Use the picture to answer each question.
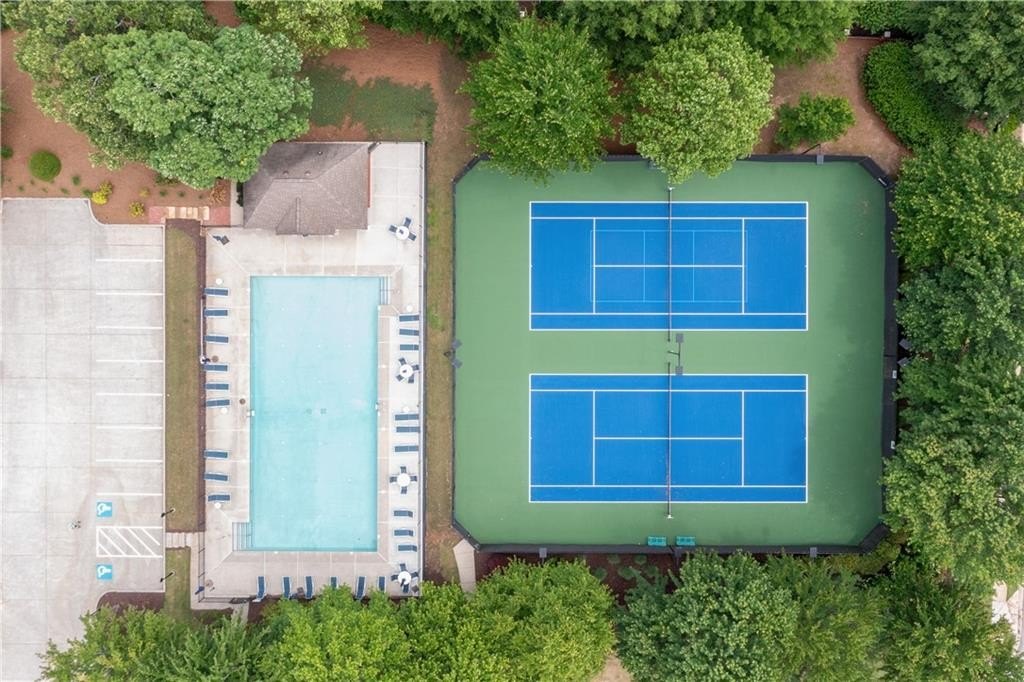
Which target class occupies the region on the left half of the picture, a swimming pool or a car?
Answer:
swimming pool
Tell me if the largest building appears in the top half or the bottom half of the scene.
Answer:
top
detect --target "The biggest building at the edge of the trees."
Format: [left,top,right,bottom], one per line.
[242,142,373,238]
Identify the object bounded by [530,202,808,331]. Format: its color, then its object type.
blue tennis court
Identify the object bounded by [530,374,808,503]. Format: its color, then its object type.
blue tennis court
